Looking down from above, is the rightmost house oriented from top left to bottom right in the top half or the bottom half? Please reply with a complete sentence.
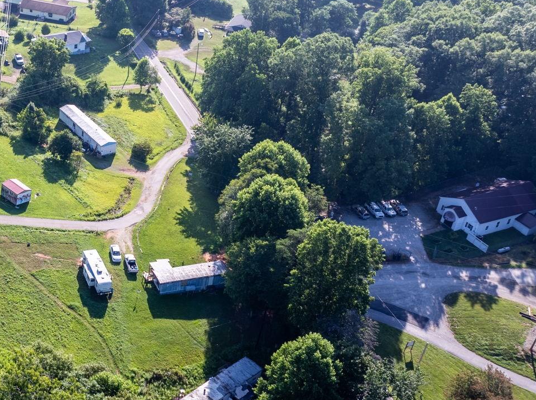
The rightmost house oriented from top left to bottom right sits in the top half of the picture.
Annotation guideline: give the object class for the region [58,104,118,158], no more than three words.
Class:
house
